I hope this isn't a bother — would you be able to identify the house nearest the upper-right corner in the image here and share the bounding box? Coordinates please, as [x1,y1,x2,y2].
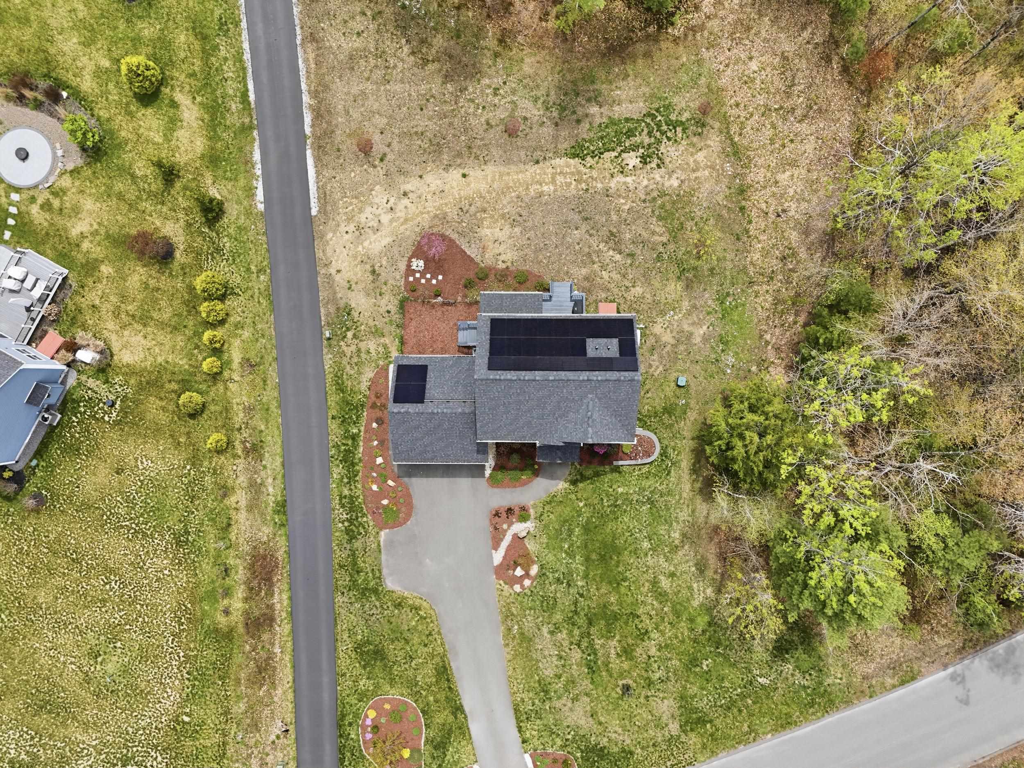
[391,290,645,464]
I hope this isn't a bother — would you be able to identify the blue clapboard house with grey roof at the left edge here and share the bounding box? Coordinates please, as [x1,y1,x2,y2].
[0,335,65,464]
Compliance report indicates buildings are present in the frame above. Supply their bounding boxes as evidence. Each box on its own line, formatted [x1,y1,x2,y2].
[391,290,645,464]
[0,335,65,464]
